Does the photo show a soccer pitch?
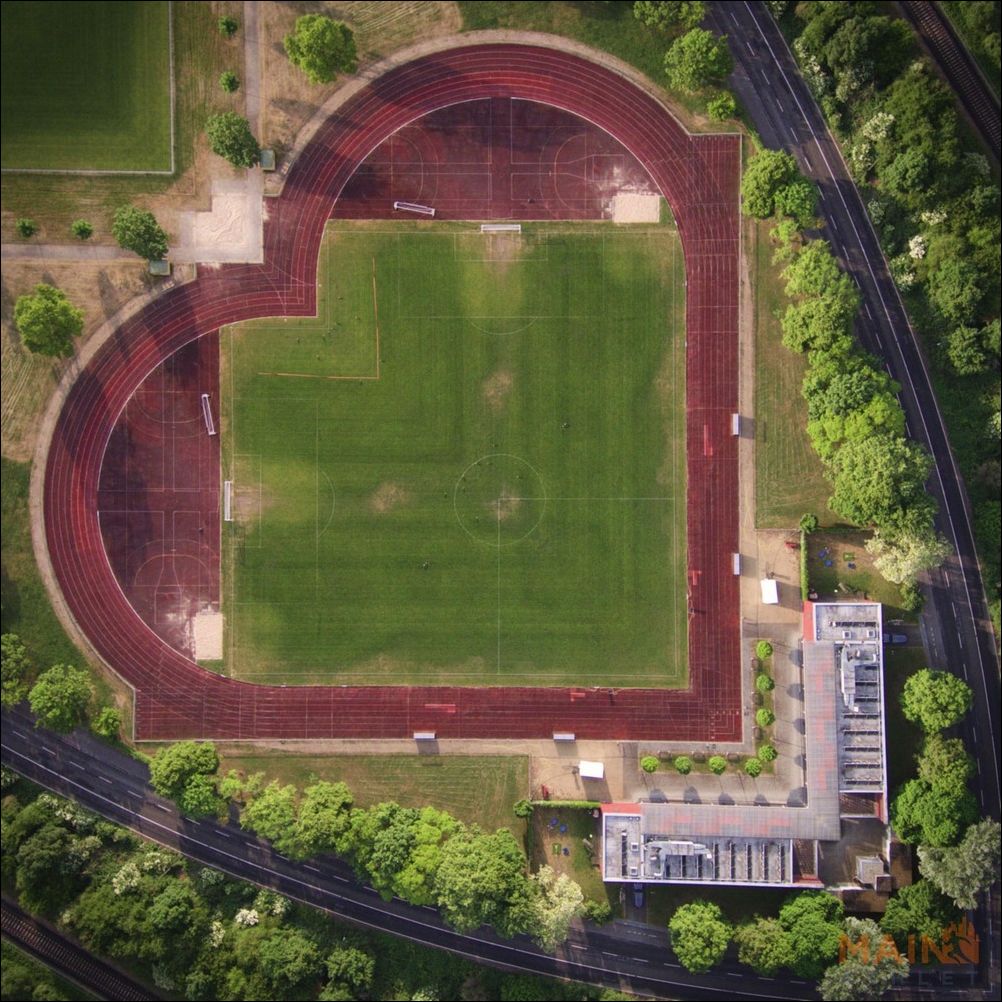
Yes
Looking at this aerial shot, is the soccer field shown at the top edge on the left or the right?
left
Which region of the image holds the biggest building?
bottom right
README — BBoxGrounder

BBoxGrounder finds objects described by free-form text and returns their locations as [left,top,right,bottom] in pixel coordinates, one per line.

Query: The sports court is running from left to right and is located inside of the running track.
[330,98,664,219]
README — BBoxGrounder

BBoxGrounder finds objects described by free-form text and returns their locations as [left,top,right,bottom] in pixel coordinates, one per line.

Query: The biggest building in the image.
[602,602,891,891]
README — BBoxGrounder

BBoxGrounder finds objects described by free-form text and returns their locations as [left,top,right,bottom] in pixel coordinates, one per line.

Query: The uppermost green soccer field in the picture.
[0,0,173,172]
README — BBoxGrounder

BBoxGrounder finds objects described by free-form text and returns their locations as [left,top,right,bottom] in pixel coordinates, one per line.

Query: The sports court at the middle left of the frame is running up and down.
[98,330,219,664]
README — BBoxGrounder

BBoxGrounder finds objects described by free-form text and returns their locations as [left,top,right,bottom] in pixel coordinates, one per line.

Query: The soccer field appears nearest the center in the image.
[218,218,690,690]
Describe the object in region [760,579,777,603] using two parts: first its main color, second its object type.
white gazebo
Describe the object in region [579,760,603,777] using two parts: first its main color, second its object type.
white gazebo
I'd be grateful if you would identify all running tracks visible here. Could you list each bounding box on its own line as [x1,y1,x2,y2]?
[43,43,742,742]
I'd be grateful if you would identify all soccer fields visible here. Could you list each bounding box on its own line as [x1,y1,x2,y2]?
[0,0,173,172]
[218,218,690,690]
